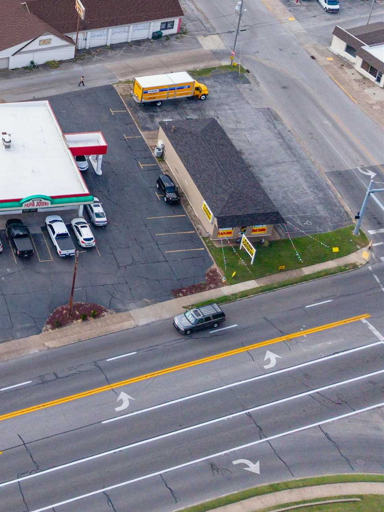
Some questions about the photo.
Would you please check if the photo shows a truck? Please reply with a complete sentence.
Yes, the photo shows a truck.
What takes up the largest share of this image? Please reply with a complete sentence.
Most of the picture is covered by paved ground.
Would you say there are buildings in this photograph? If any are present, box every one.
[329,22,384,87]
[157,118,290,246]
[0,101,106,228]
[0,0,191,71]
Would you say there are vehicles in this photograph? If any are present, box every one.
[127,68,208,104]
[46,218,72,257]
[87,197,108,227]
[319,0,339,12]
[73,154,92,175]
[170,299,230,334]
[8,220,32,258]
[72,219,95,250]
[154,168,180,207]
